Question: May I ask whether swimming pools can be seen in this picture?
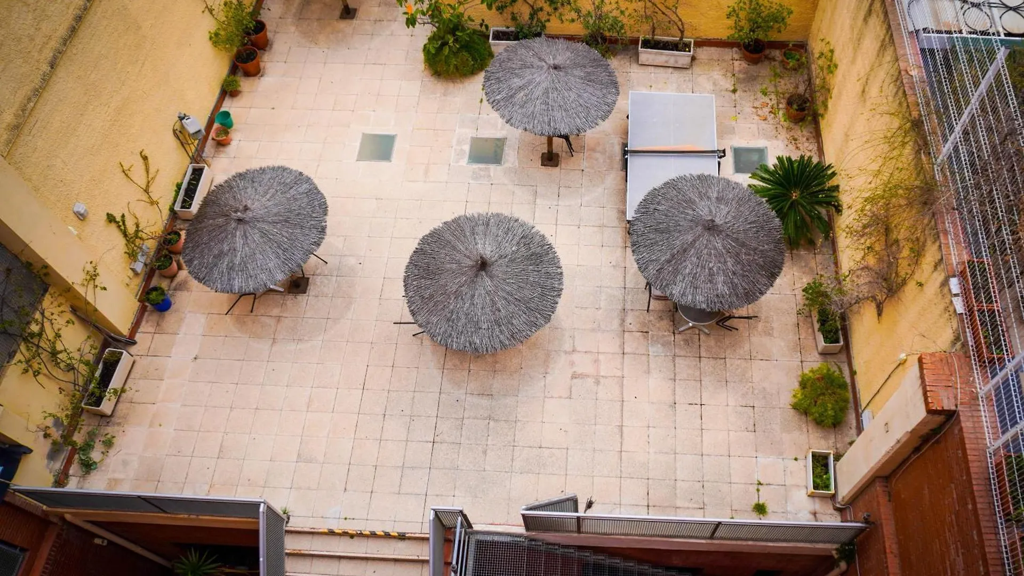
No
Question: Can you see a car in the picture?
No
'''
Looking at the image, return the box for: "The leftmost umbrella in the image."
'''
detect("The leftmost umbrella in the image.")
[175,172,328,293]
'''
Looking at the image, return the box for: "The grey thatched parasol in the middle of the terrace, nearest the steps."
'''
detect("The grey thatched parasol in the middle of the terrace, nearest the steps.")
[405,214,568,356]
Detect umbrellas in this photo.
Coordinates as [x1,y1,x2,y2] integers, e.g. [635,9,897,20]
[405,214,568,356]
[338,0,356,18]
[623,181,785,319]
[175,172,328,293]
[487,38,626,166]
